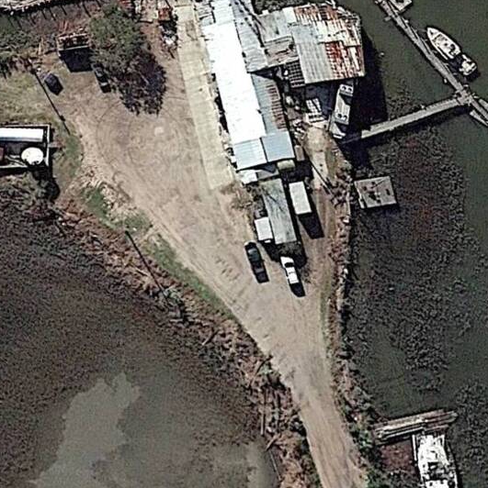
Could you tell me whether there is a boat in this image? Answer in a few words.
Yes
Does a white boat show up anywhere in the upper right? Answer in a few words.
Yes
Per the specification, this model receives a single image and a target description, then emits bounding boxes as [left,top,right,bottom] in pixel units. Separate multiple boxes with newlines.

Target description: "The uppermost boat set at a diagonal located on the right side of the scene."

[426,26,460,60]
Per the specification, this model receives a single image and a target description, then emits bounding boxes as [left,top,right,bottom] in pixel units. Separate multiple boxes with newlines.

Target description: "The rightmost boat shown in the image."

[458,58,477,76]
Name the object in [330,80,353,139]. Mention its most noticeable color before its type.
white boat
